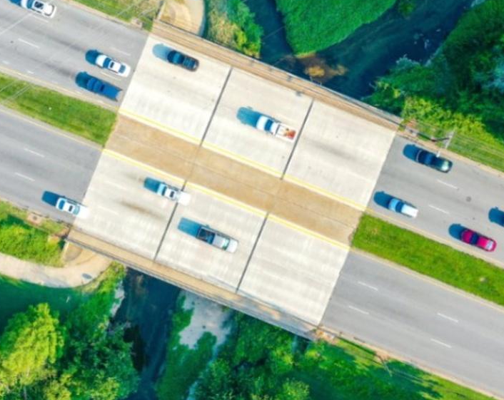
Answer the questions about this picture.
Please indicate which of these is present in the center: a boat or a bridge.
bridge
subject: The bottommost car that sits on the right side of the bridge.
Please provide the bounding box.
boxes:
[458,227,496,252]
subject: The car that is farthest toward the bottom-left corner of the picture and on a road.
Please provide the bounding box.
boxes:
[52,195,87,217]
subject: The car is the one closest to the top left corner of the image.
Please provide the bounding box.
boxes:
[20,0,57,18]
